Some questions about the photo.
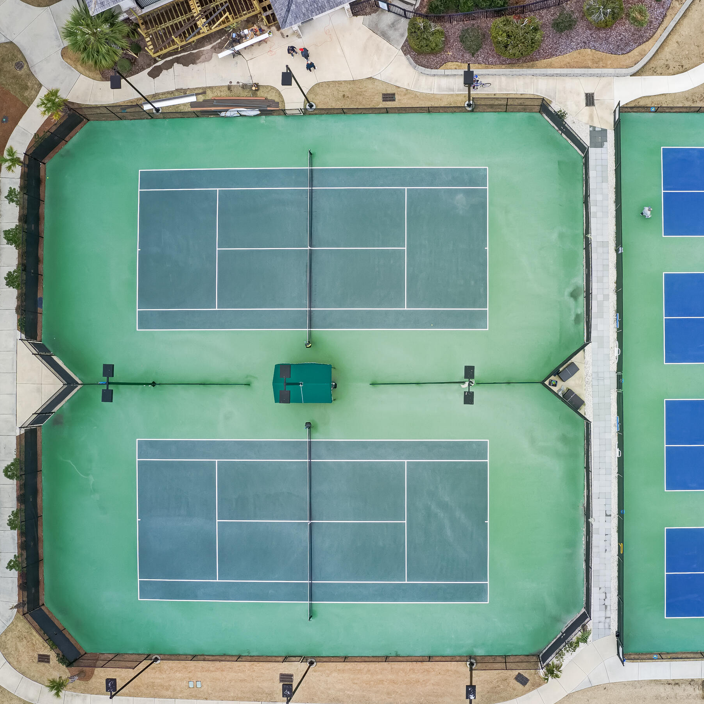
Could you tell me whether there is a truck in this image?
No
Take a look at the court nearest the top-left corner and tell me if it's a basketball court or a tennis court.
tennis court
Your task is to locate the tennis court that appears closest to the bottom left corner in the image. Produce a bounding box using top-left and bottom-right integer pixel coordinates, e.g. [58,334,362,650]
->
[136,440,489,603]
